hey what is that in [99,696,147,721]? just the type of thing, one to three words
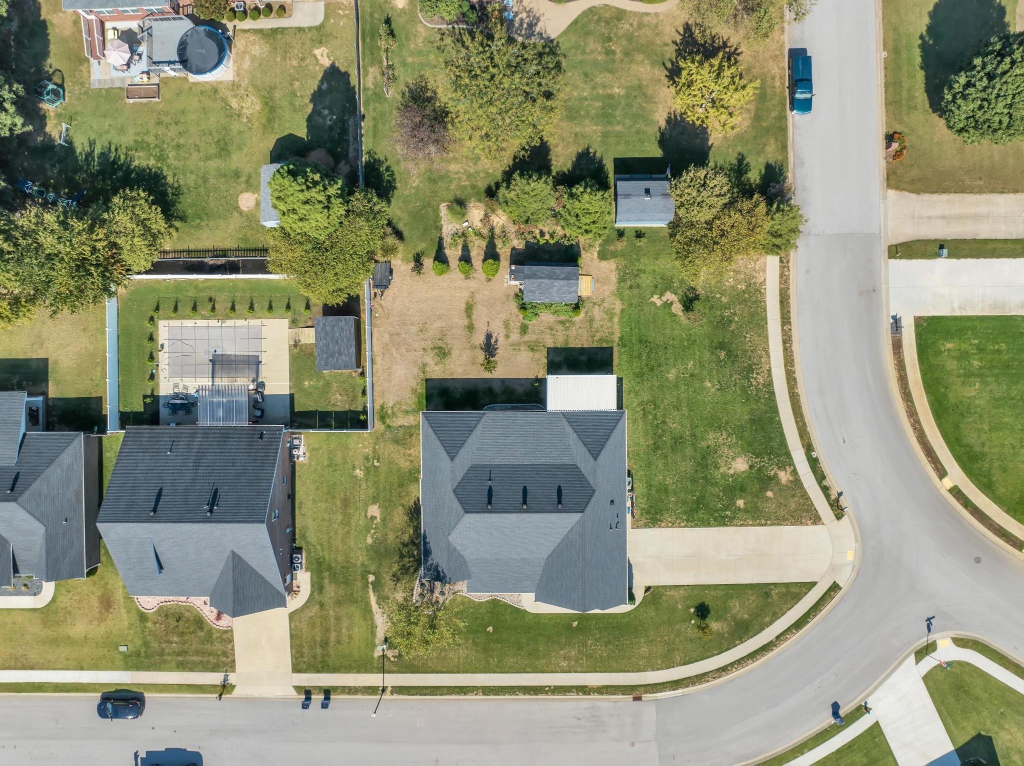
car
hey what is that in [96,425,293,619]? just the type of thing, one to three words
house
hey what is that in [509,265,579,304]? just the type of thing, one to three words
shed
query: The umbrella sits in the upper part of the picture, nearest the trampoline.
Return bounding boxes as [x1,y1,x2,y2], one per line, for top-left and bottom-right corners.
[104,40,130,67]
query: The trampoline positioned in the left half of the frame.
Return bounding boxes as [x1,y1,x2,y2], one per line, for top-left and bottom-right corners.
[27,74,65,105]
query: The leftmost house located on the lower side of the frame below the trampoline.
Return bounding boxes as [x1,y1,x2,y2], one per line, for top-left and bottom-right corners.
[0,391,105,589]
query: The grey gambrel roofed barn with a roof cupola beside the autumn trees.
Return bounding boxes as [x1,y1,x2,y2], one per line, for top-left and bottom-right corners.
[613,177,673,228]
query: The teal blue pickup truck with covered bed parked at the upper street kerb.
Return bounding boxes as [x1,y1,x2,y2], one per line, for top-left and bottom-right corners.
[789,57,816,119]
